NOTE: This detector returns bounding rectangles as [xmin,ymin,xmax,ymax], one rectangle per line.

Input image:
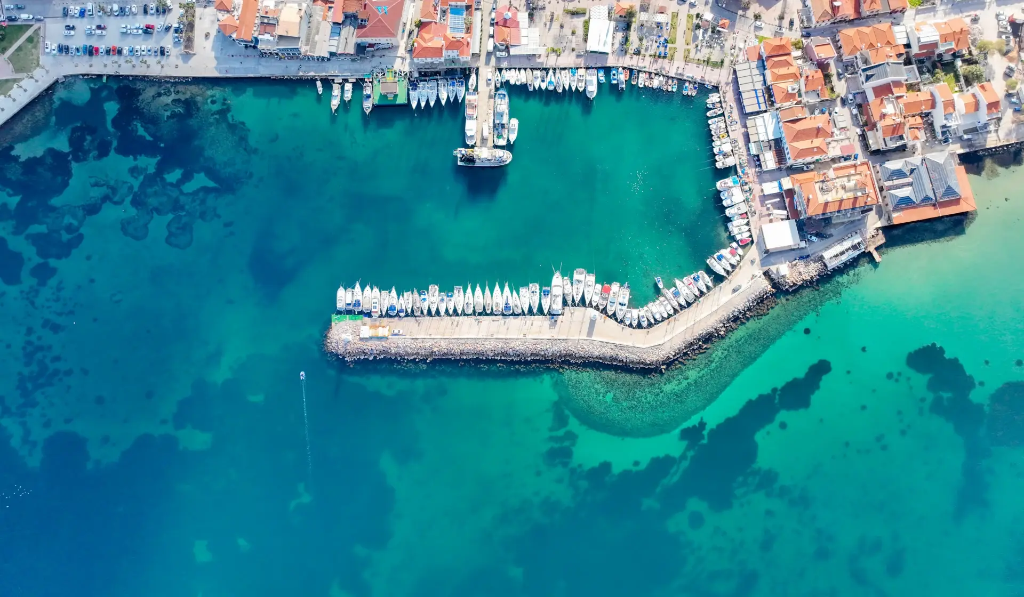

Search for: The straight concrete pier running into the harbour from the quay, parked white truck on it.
[476,68,495,148]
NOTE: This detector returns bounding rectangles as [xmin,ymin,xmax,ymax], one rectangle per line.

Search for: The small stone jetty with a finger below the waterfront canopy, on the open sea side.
[865,230,886,262]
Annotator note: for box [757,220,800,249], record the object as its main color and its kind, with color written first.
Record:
white tent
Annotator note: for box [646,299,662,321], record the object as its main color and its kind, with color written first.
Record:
white boat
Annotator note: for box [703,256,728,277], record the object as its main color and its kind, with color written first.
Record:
white boat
